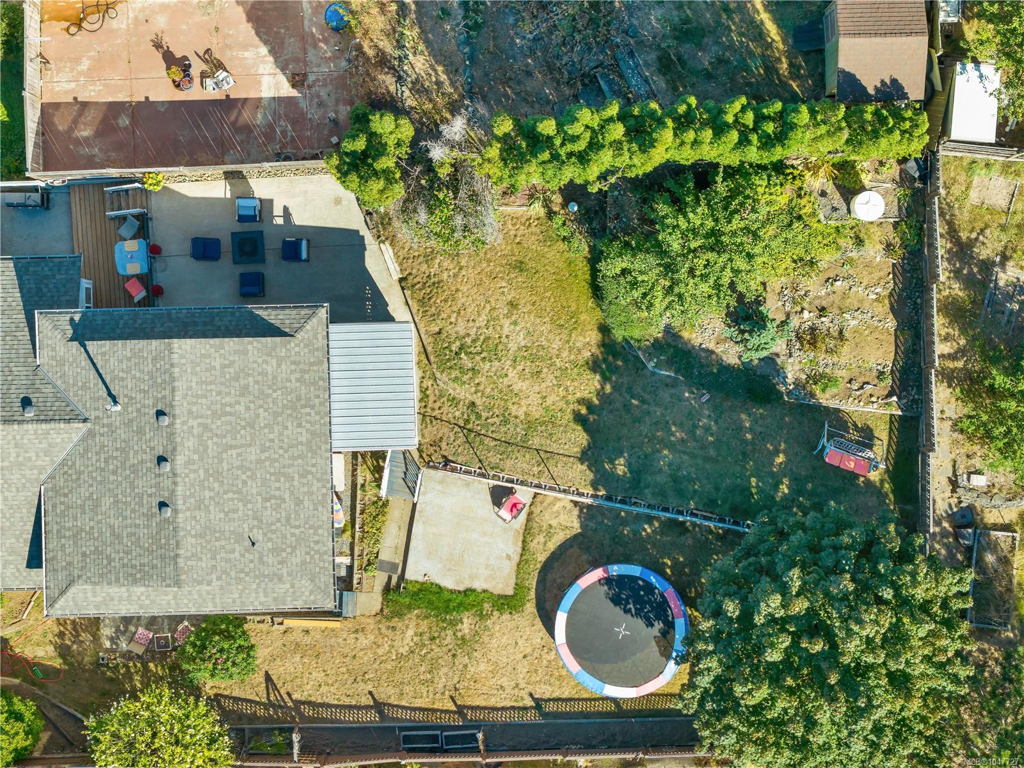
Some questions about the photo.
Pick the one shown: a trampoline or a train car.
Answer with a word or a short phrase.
trampoline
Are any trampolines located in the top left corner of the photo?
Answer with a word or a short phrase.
No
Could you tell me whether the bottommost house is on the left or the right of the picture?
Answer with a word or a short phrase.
left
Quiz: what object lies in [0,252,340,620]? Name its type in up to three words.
house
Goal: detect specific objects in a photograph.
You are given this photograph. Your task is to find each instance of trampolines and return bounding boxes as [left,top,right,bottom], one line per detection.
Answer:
[554,561,689,698]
